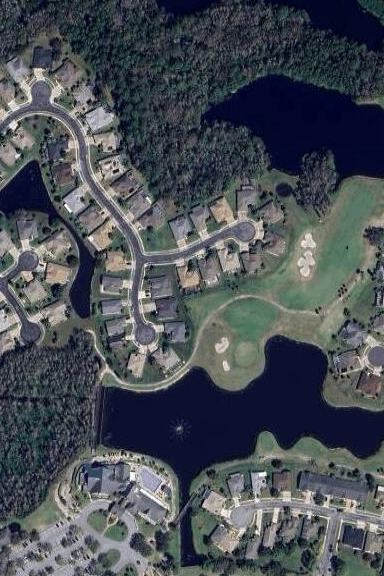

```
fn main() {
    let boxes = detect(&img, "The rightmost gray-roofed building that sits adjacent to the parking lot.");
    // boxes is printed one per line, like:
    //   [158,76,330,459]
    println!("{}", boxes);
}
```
[78,461,170,523]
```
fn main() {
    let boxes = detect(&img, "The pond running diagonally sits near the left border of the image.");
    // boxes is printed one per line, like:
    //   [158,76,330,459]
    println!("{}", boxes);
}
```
[0,160,94,318]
